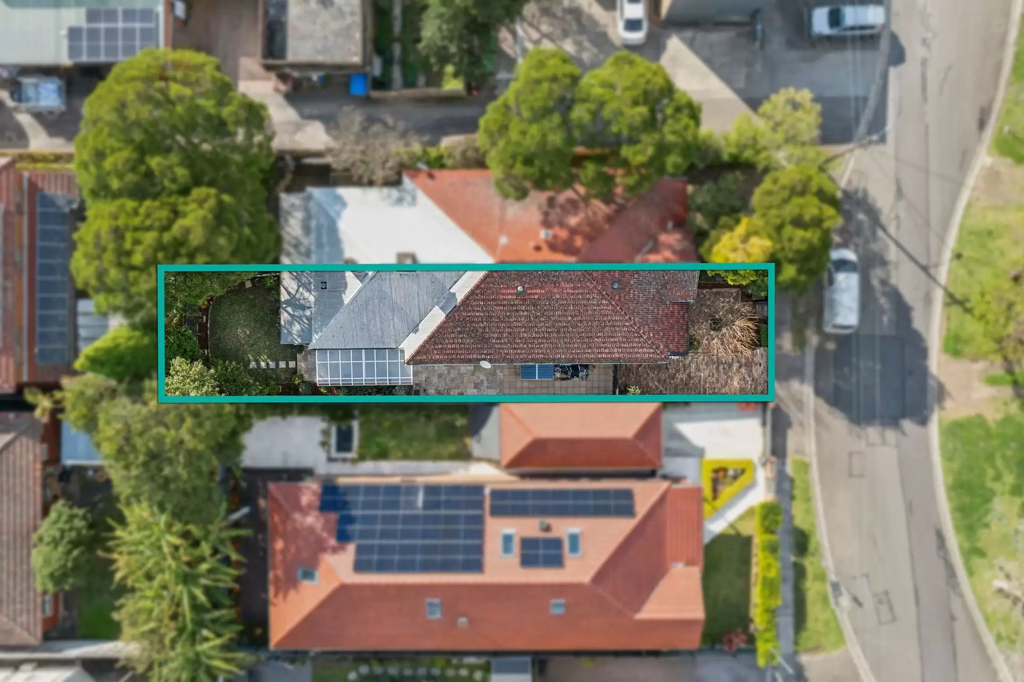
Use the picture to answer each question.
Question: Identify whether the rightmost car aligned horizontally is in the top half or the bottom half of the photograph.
top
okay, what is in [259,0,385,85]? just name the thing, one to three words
building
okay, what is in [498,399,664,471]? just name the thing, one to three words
building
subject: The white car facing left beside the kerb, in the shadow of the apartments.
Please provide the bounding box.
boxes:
[807,0,889,40]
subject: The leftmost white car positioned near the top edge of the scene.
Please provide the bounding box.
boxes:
[617,0,649,44]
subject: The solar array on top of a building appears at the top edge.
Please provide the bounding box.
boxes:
[67,8,155,60]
